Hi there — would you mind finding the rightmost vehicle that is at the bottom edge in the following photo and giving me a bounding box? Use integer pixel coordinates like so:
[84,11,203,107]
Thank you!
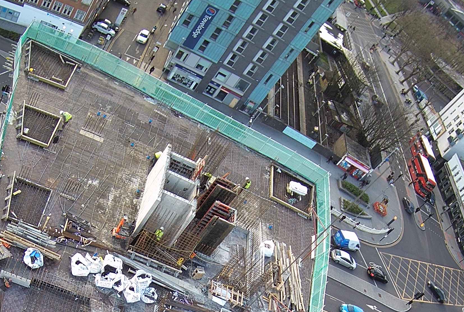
[429,280,450,301]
